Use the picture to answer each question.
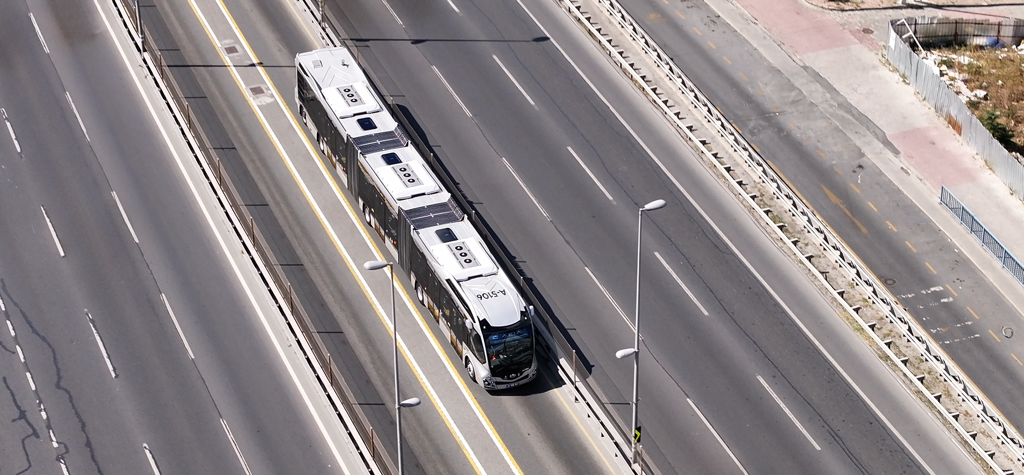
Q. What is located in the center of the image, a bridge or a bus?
bus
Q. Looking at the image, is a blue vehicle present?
No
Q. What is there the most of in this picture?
paved ground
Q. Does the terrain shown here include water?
No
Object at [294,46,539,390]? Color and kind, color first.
white bus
